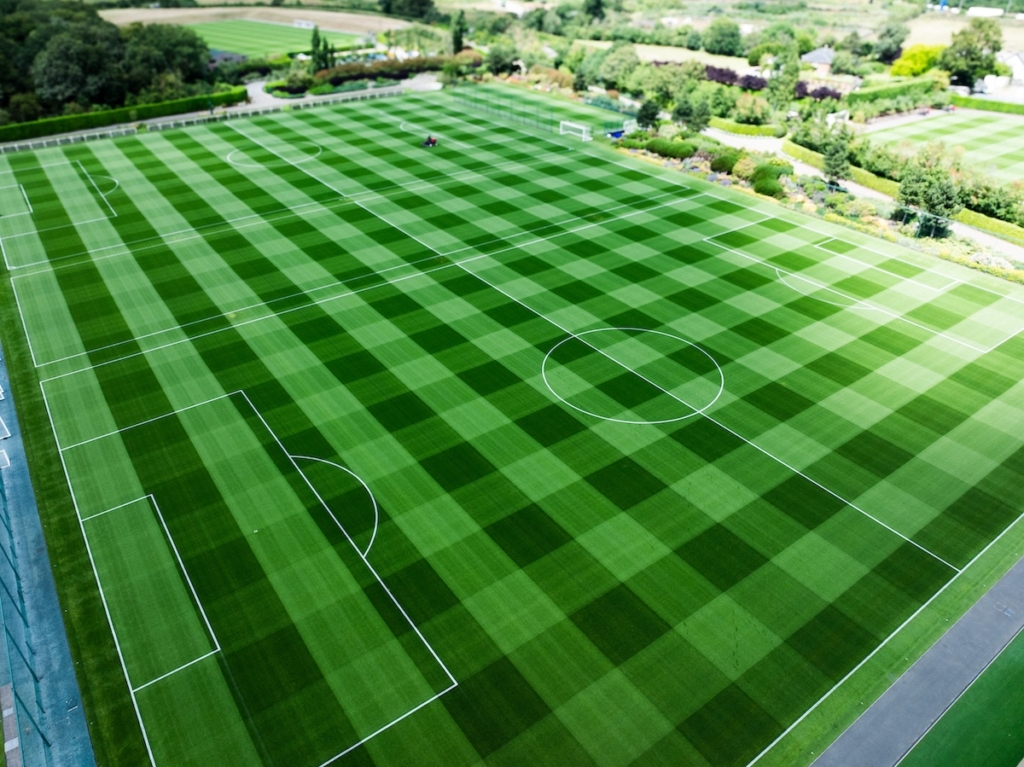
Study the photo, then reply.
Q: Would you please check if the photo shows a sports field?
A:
Yes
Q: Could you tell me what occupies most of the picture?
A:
grass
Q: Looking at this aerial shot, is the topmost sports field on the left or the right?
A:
left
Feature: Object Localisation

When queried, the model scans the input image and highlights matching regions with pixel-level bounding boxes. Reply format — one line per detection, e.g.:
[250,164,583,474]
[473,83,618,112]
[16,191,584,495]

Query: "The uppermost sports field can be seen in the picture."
[179,20,377,68]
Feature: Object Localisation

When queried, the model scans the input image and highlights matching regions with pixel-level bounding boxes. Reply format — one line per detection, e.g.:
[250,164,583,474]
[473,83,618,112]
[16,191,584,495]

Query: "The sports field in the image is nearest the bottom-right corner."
[902,633,1024,767]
